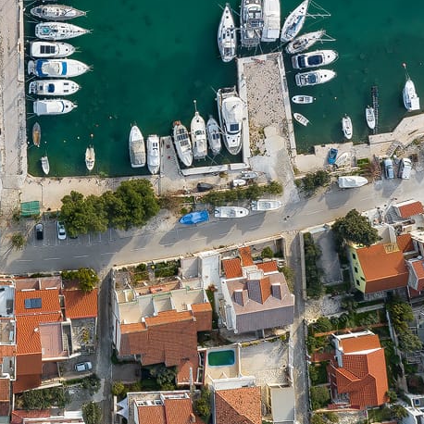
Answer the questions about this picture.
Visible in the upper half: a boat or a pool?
boat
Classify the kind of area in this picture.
residential area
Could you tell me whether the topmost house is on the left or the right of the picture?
right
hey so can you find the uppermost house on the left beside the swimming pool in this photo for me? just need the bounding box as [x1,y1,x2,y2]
[115,279,211,392]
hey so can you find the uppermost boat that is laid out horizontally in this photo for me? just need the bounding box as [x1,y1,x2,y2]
[22,3,87,20]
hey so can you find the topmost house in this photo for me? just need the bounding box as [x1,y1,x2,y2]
[390,198,424,227]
